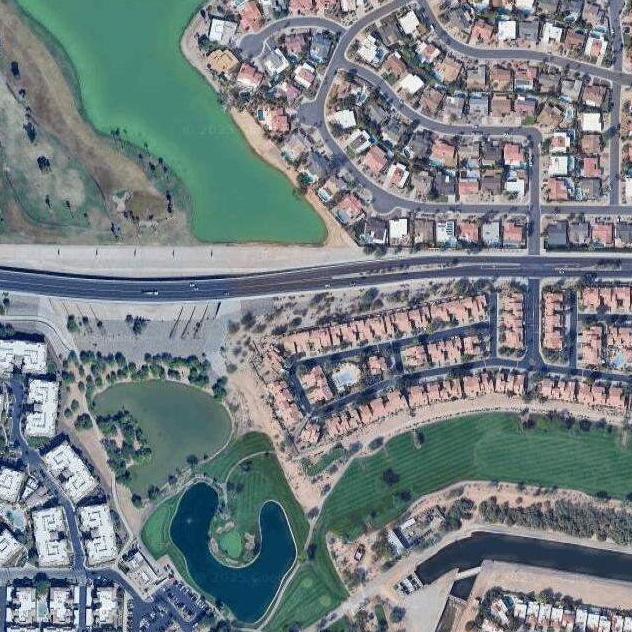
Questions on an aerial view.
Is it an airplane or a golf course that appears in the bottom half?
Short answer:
golf course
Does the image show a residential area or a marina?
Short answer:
residential area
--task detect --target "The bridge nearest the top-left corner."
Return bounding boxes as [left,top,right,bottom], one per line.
[0,263,353,303]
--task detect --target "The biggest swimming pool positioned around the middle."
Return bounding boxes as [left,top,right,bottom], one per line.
[333,364,358,386]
